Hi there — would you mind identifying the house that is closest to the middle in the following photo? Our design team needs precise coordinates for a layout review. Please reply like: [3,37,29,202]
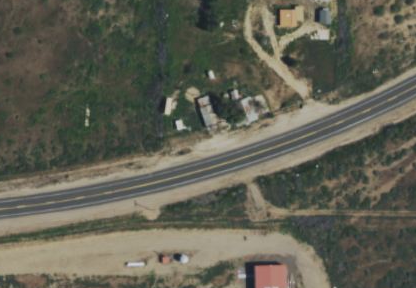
[196,96,219,126]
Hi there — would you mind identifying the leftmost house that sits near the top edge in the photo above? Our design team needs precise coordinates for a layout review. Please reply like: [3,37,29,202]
[280,6,304,26]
